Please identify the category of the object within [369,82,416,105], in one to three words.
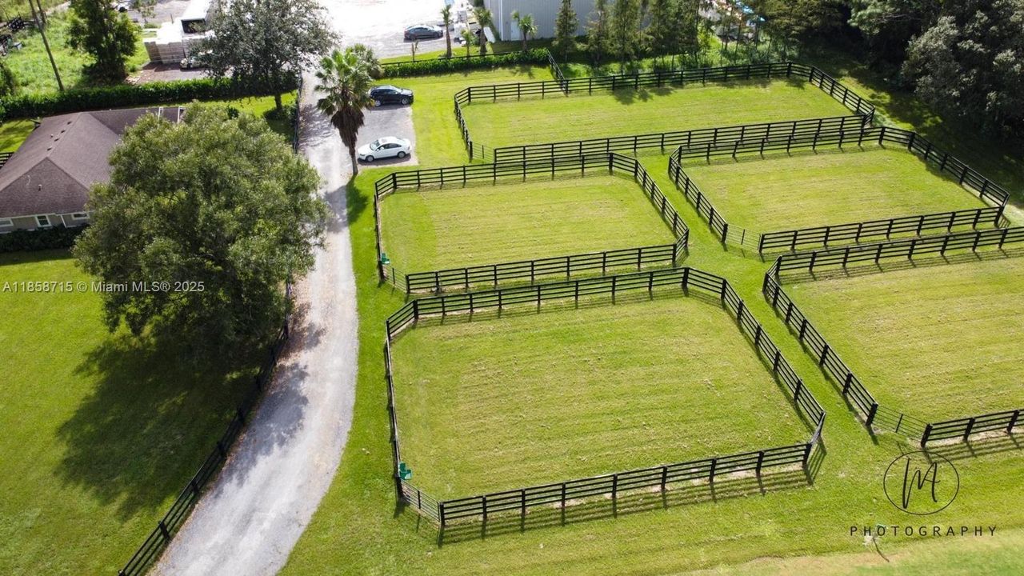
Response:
car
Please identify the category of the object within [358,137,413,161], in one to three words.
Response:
car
